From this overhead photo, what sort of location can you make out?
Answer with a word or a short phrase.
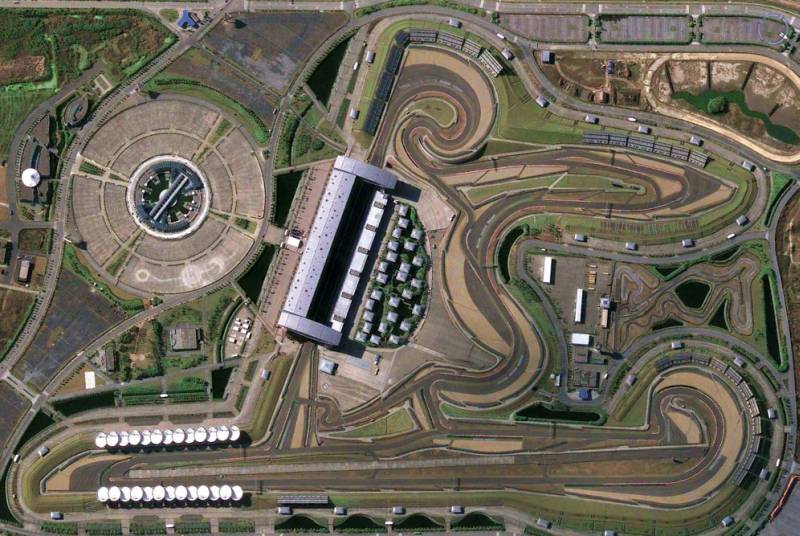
sports ground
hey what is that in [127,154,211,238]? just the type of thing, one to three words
building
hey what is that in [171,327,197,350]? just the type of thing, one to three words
building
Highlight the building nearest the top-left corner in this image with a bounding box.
[62,94,88,126]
